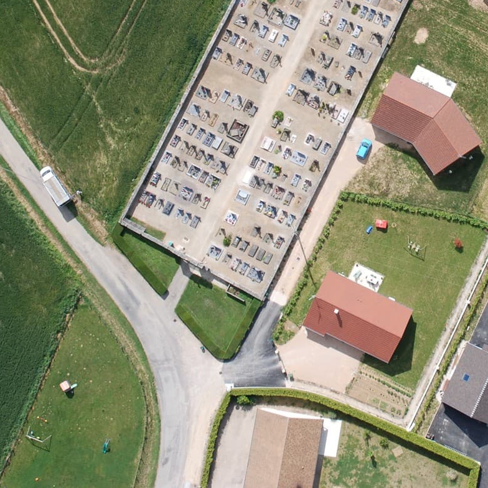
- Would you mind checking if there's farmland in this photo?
Yes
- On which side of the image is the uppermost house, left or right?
right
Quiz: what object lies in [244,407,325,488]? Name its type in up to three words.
house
